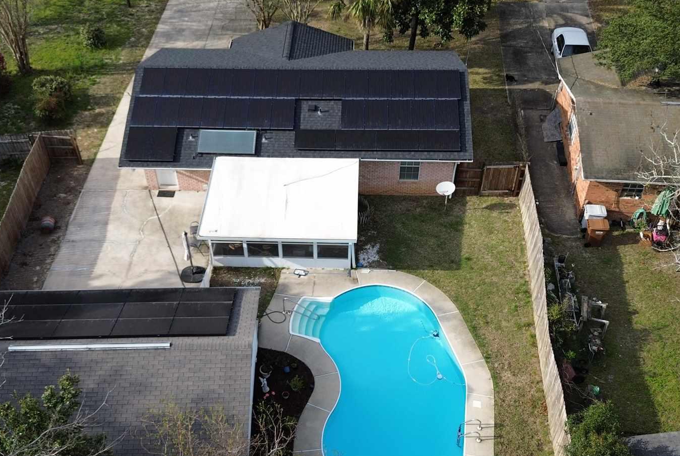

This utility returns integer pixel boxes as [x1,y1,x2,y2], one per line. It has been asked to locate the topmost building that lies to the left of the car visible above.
[121,21,474,199]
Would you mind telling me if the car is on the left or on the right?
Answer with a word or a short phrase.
right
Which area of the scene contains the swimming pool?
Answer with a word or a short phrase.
bottom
